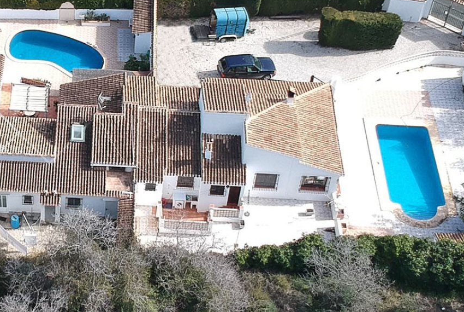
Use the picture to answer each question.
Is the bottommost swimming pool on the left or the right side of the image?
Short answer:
right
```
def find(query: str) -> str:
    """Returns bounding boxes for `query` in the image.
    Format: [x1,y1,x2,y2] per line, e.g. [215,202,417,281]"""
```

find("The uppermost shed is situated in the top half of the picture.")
[132,0,154,54]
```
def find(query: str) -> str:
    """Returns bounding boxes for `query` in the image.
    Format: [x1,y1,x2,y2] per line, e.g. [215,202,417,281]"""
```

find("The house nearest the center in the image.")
[201,78,345,204]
